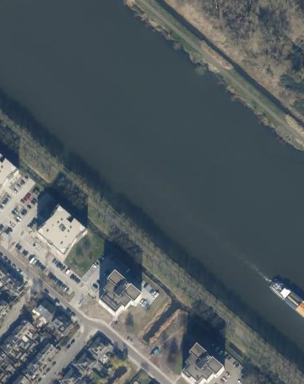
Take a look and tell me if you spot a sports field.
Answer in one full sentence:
No, there's no sports field here.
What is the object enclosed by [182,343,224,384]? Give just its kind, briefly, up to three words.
building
